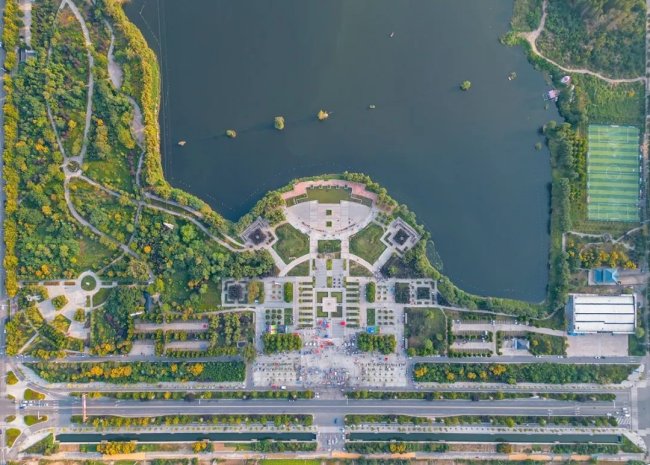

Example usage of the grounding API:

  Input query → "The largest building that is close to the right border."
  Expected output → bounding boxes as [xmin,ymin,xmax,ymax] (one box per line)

[566,293,636,335]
